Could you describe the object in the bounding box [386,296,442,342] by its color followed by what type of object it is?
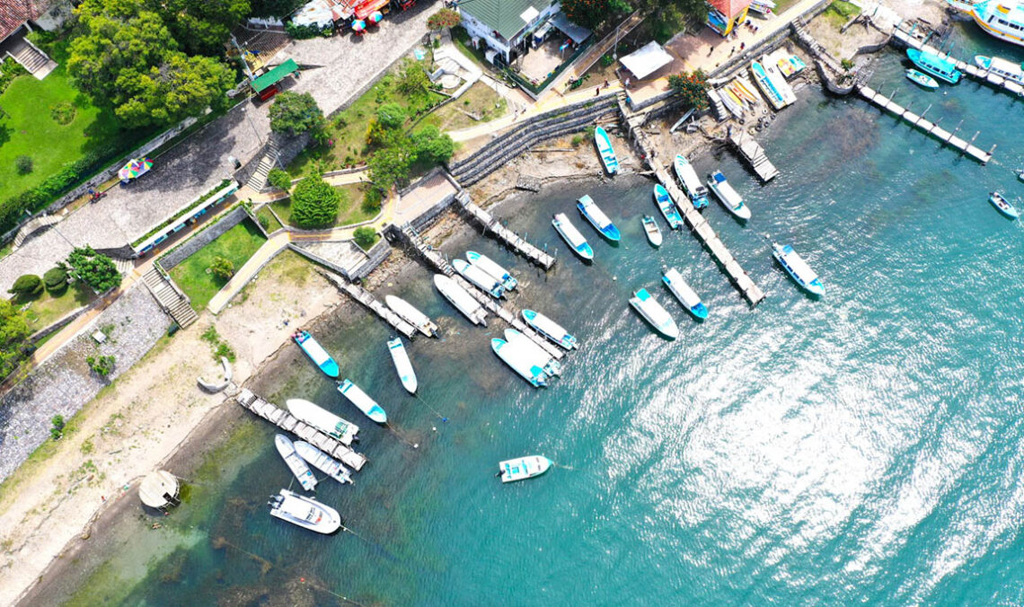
white boat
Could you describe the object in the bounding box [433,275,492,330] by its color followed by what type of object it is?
white boat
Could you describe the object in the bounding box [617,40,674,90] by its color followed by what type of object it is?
white tent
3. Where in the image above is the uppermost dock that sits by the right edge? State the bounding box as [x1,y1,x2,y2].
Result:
[893,17,1024,100]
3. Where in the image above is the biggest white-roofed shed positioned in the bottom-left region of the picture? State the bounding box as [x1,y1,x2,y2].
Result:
[133,470,178,510]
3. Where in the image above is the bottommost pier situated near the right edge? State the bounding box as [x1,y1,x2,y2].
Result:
[855,81,1002,166]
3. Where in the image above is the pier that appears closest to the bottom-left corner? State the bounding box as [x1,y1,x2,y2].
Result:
[237,390,369,475]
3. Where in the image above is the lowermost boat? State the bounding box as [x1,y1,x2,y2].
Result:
[265,493,341,534]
